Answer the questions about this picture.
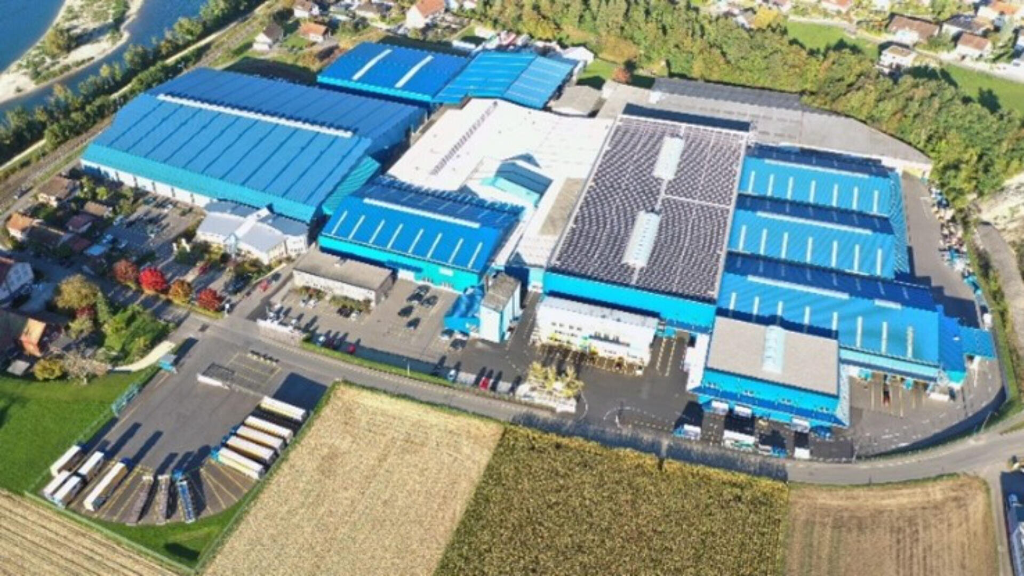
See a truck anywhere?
Yes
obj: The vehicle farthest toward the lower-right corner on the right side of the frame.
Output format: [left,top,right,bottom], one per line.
[928,389,952,405]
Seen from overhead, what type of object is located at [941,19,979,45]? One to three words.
house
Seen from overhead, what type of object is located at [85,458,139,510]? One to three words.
truck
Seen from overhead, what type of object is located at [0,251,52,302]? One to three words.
house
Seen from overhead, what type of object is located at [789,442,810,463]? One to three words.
vehicle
